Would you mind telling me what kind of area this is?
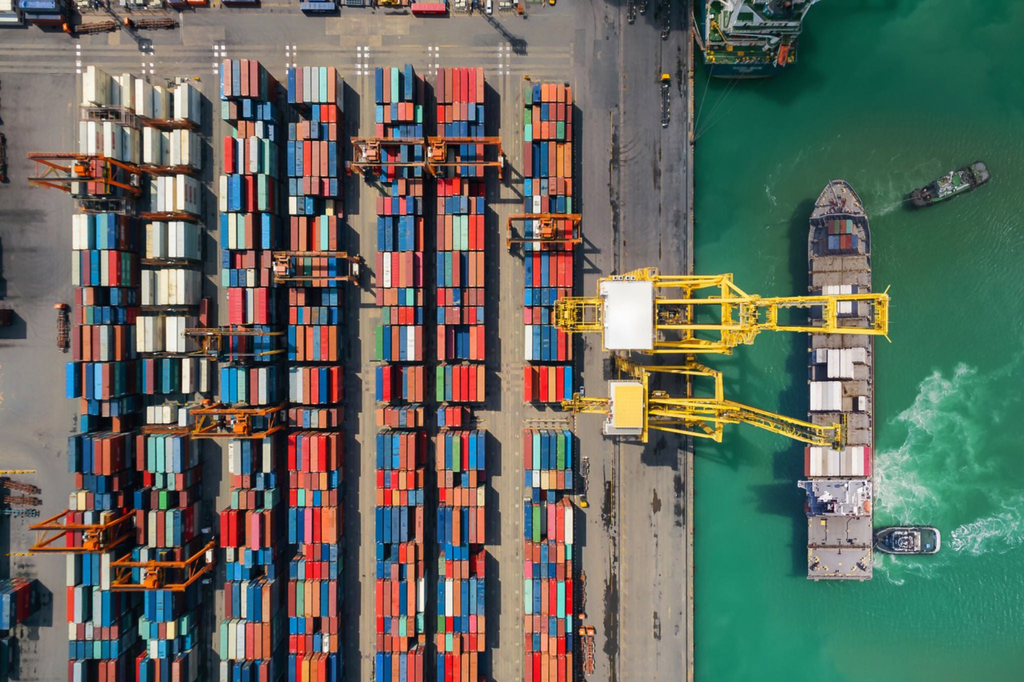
port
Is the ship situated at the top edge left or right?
right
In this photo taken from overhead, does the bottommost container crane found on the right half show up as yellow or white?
yellow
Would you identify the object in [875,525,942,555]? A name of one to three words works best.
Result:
boat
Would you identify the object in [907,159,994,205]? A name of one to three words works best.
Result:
boat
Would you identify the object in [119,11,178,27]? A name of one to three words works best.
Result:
work vehicle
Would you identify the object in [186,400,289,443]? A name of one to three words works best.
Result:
crane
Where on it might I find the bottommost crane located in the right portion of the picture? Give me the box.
[564,354,848,450]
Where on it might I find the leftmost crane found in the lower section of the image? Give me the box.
[26,506,139,558]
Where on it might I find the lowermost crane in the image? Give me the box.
[107,537,220,594]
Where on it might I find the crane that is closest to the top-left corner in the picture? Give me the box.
[25,150,143,201]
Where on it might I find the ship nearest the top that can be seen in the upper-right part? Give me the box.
[691,0,819,79]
